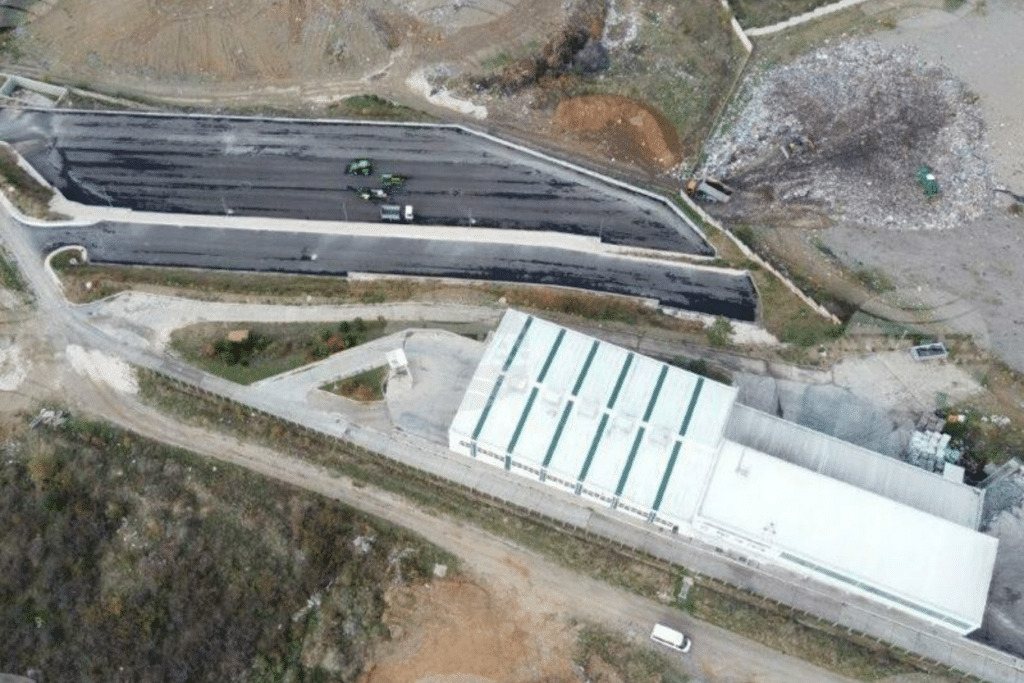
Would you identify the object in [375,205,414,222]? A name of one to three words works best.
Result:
vehicle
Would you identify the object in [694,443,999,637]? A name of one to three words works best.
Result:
building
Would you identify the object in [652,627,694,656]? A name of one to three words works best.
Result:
van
